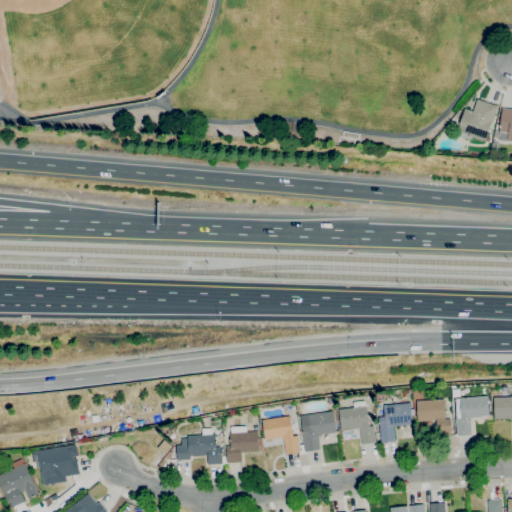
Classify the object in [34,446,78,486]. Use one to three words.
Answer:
house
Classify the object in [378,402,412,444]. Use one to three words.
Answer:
house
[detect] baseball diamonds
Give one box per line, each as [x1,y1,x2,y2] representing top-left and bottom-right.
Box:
[0,0,208,112]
